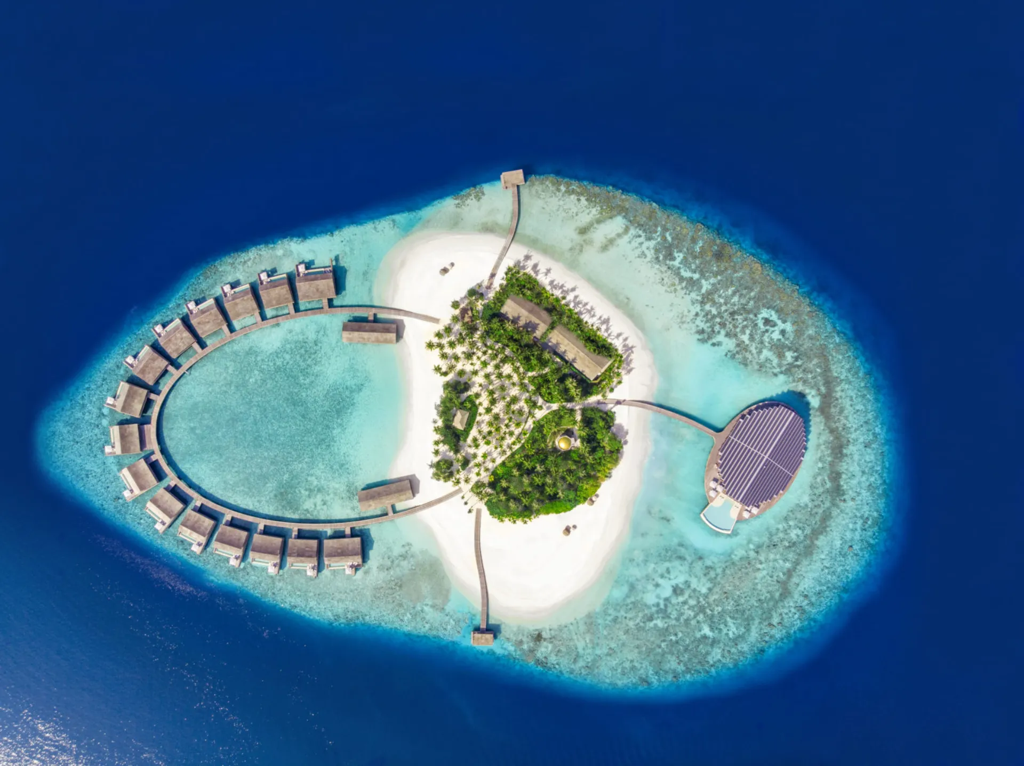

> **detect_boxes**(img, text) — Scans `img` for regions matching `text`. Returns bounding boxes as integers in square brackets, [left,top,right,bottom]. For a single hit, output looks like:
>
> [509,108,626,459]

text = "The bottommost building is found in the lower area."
[471,630,493,646]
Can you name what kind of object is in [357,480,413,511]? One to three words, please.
building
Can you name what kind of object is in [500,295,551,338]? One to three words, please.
house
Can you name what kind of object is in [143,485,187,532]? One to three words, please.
house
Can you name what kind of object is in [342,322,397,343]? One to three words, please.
building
